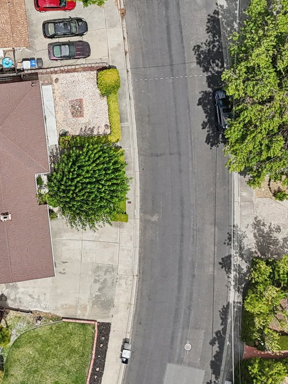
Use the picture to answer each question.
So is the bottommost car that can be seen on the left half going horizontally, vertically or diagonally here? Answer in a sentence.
I'd say the bottommost car that can be seen on the left half is aligned horizontally in the picture.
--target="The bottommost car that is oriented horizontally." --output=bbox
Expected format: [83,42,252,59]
[47,39,91,61]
